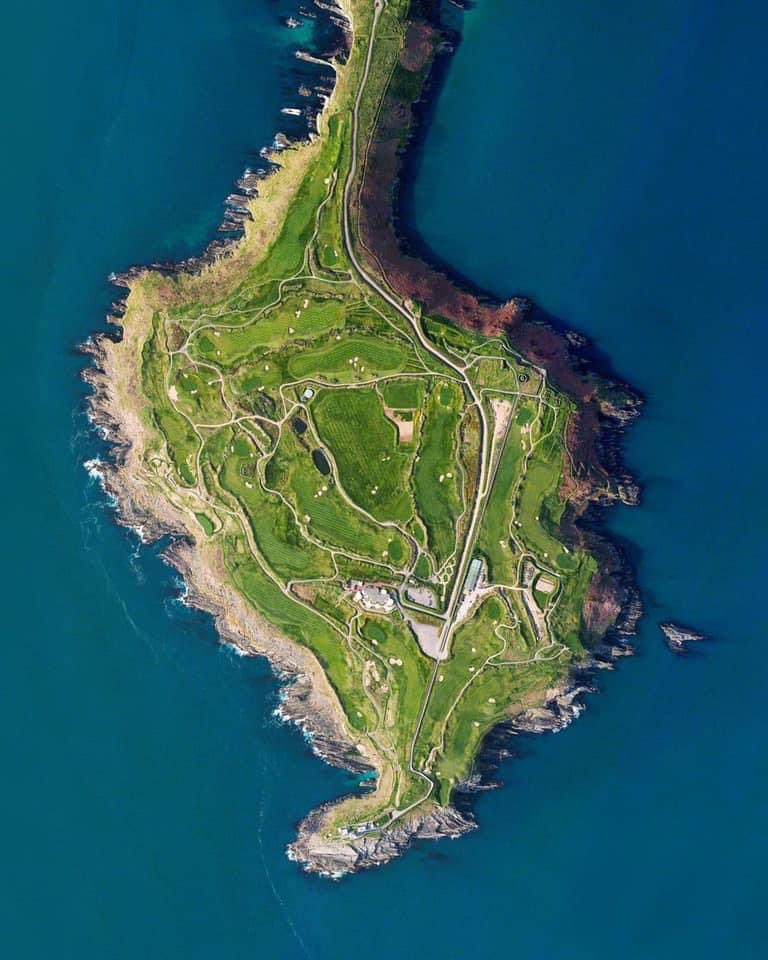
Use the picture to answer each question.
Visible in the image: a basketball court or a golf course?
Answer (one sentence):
It is a golf course that can be seen here.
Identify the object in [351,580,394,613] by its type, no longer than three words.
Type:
building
